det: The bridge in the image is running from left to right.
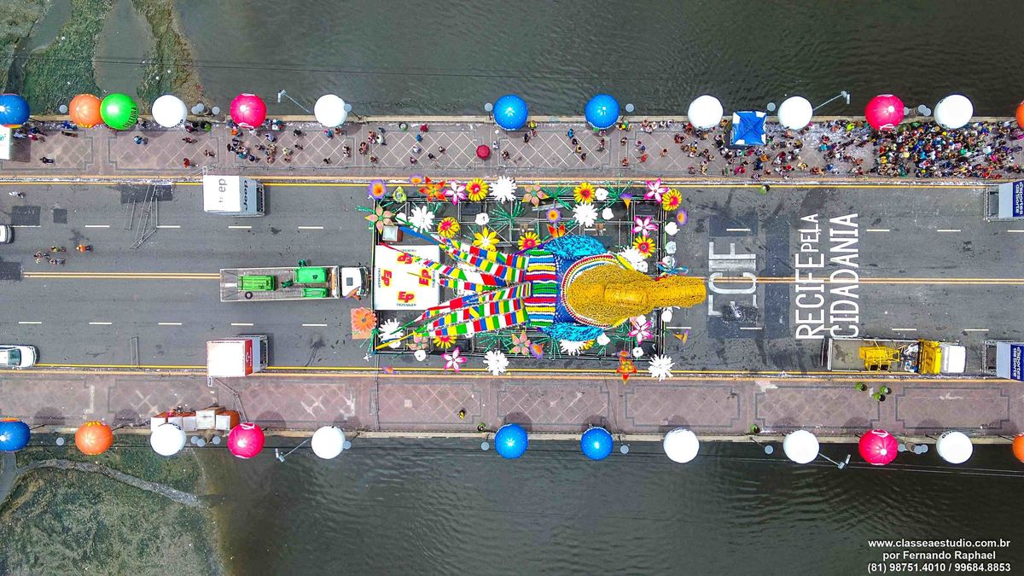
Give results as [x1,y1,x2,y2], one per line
[0,114,1024,445]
